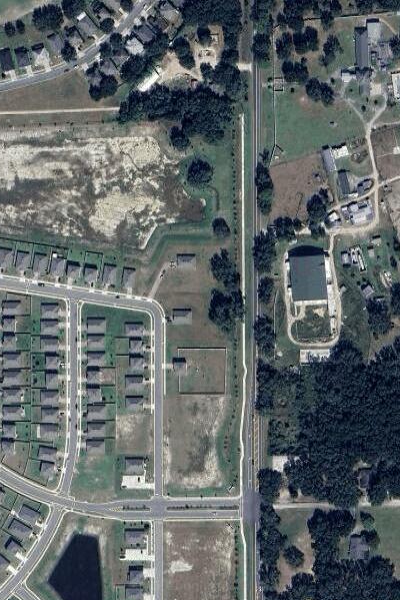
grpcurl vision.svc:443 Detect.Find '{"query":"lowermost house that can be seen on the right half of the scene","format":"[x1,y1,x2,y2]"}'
[351,536,369,559]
